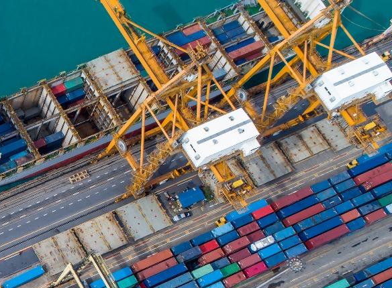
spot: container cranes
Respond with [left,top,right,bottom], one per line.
[93,0,273,212]
[43,254,125,288]
[210,0,392,155]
